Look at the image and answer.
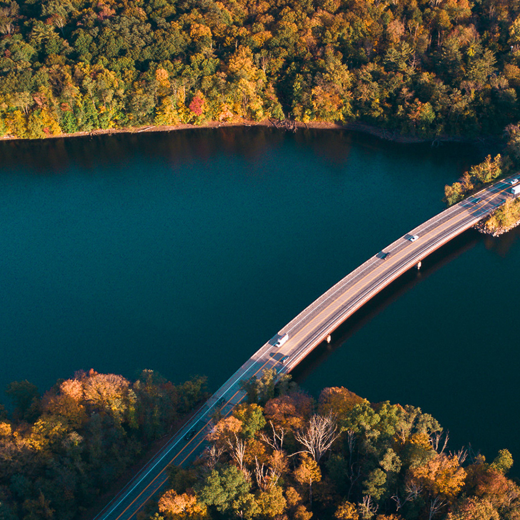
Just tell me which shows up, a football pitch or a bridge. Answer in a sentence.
This aerial view contains a bridge.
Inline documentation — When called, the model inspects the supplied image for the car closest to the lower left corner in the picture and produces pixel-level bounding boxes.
[184,426,198,440]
